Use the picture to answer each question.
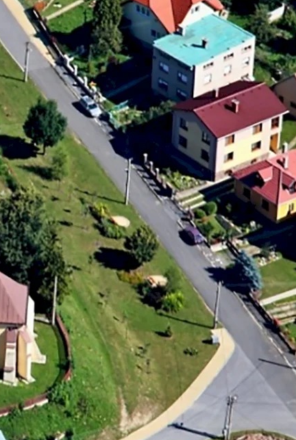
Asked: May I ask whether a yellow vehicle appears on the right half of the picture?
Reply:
No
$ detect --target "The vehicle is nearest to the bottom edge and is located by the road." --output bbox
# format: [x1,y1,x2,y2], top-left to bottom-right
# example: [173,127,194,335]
[182,223,205,243]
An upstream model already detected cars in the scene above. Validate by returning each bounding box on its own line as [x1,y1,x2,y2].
[80,94,100,113]
[182,223,205,243]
